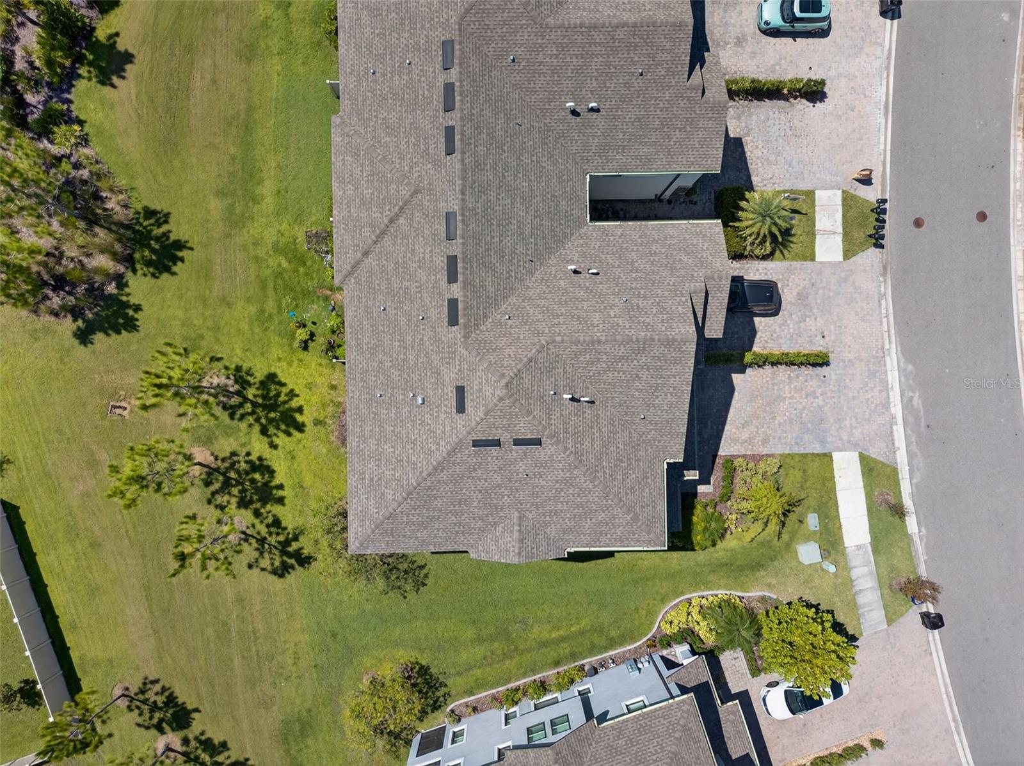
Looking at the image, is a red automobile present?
No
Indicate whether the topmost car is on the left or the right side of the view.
right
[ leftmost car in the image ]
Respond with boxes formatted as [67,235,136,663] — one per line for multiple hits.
[723,278,782,319]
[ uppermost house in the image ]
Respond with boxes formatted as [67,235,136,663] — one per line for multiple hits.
[331,0,728,565]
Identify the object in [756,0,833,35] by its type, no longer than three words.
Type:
car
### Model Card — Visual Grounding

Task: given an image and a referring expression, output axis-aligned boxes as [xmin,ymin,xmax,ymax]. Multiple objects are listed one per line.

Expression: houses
[331,0,728,565]
[410,639,762,766]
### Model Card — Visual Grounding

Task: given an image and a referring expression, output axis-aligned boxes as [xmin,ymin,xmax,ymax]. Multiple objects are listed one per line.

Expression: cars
[758,665,853,717]
[723,278,782,319]
[756,0,833,35]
